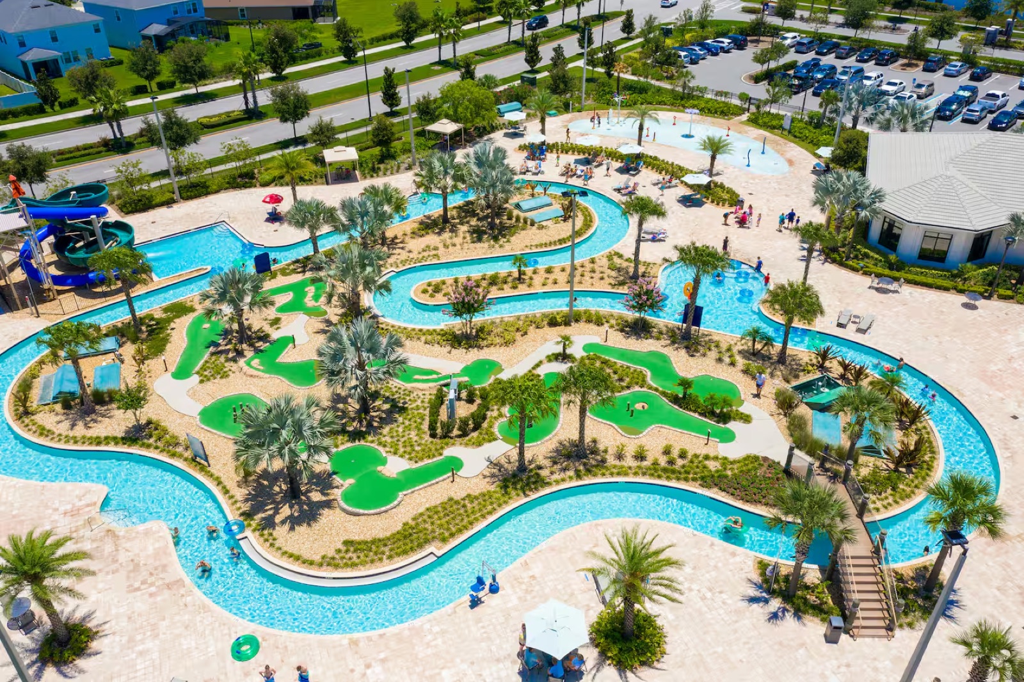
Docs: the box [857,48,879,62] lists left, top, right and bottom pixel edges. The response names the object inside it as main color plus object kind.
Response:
blue car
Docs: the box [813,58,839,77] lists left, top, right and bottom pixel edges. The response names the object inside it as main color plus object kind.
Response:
blue car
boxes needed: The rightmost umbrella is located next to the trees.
[817,150,843,171]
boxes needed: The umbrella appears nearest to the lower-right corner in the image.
[523,605,590,663]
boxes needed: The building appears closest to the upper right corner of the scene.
[983,23,1006,44]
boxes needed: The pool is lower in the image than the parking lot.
[0,181,1000,635]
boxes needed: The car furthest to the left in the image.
[528,13,547,26]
